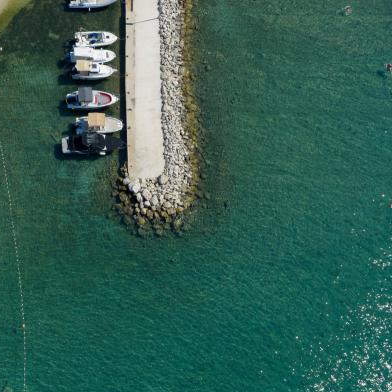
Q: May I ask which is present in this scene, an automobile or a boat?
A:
boat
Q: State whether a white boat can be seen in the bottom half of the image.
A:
No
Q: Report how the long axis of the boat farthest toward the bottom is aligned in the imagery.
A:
from left to right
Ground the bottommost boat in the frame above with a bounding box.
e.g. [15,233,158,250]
[57,133,128,158]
